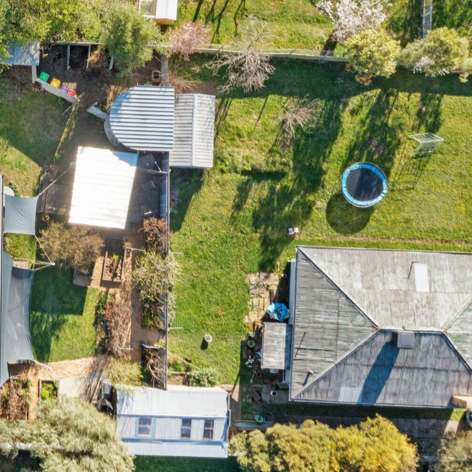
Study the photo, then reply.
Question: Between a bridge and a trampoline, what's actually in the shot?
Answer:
trampoline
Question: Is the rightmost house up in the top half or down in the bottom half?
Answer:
bottom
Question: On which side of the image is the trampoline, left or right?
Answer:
right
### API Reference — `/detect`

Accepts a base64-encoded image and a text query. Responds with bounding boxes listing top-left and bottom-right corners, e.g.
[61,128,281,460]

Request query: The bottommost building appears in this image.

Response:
[110,383,230,458]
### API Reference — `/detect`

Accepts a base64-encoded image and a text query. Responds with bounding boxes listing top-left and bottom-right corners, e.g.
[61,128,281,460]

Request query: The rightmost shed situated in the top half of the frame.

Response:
[168,93,214,171]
